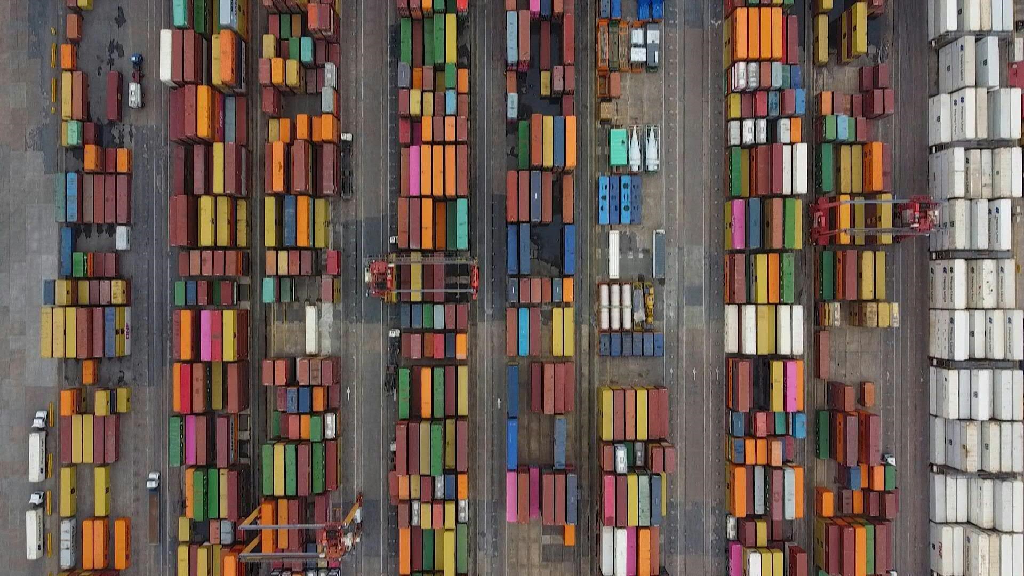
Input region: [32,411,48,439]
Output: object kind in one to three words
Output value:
vehicle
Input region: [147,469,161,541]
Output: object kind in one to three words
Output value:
vehicle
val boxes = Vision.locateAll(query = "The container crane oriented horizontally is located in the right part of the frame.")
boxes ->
[810,198,949,246]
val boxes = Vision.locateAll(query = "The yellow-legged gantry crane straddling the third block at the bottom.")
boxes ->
[238,493,364,563]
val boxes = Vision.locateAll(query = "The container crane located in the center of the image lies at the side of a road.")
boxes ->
[367,255,482,300]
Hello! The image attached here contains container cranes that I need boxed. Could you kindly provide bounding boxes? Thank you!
[810,198,949,246]
[238,493,364,563]
[367,255,482,300]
